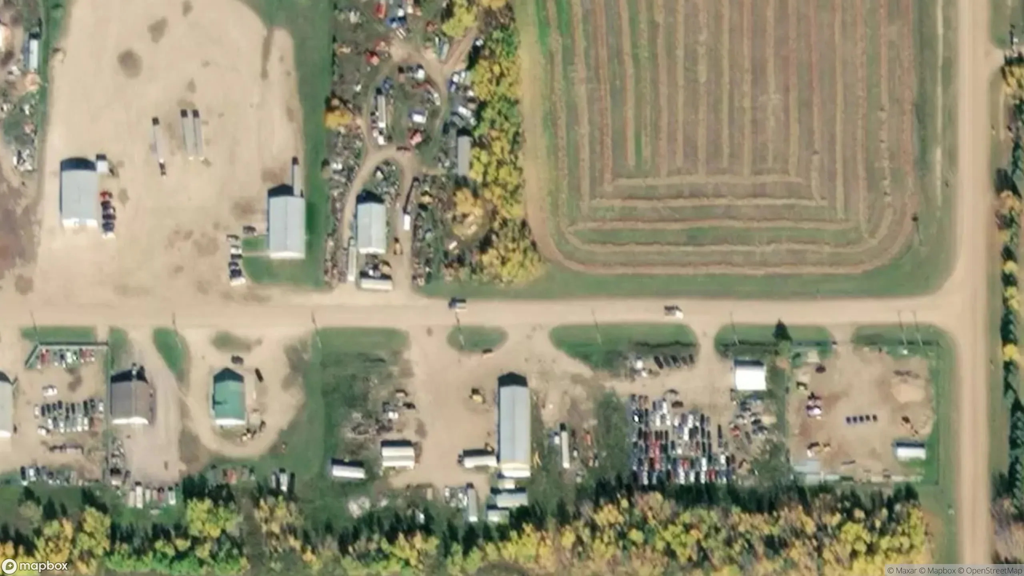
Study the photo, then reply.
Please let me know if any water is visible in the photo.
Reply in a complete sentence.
No, there is no water in the image.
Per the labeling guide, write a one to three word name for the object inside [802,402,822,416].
work vehicle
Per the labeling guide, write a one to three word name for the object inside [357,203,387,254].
building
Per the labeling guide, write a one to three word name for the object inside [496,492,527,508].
shed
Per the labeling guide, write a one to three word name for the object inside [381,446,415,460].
shed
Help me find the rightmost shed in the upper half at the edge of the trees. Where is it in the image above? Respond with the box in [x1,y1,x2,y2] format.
[458,136,471,178]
